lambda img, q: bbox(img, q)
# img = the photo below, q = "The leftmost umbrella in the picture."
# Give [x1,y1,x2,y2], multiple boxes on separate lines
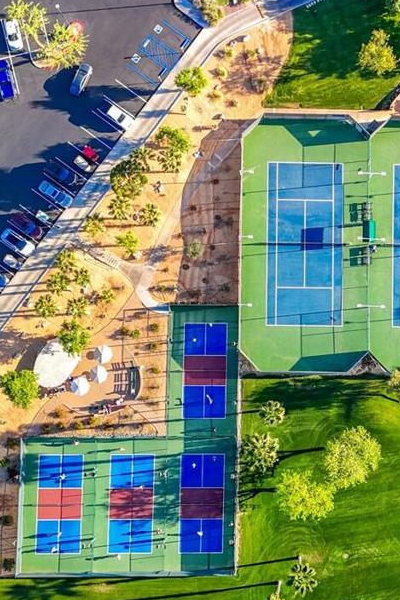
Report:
[71,376,90,395]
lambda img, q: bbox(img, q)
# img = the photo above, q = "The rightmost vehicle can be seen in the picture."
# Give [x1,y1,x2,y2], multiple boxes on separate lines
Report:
[102,103,136,131]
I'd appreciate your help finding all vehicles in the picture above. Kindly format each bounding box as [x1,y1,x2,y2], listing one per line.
[0,227,35,256]
[9,211,43,239]
[72,154,93,172]
[79,145,101,163]
[48,157,81,185]
[102,103,136,131]
[0,252,24,271]
[0,60,15,100]
[38,180,73,208]
[34,210,56,228]
[71,62,93,97]
[5,22,24,53]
